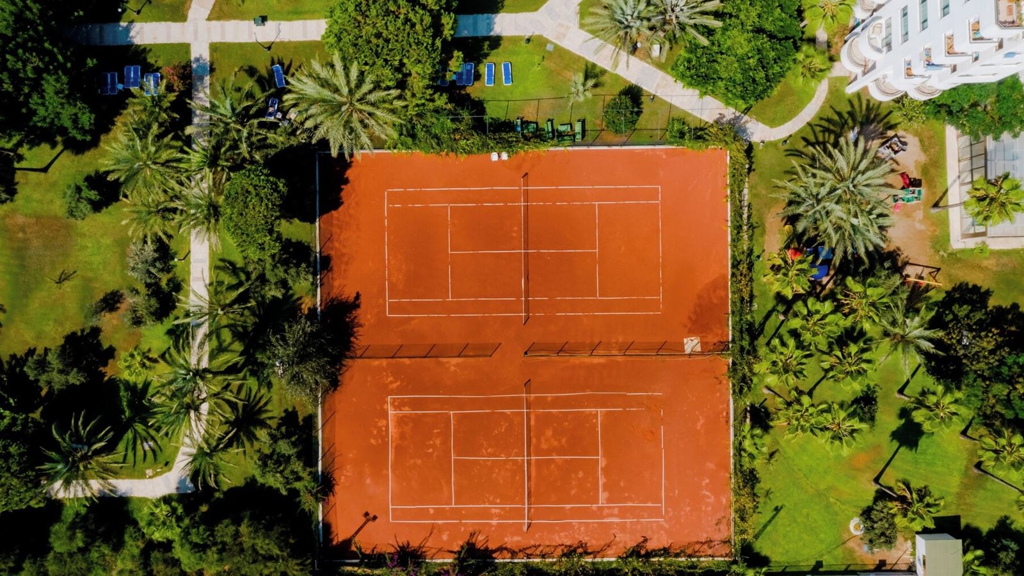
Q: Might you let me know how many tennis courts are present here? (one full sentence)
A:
The count of tennis courts comes to 2.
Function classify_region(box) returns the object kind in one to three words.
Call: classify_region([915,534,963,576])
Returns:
shed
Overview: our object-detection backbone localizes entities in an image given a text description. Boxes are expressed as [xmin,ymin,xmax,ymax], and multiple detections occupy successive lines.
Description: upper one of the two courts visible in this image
[319,149,730,356]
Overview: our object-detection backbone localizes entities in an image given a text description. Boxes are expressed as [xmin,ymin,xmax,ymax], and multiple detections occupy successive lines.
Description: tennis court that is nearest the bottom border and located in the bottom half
[321,354,732,560]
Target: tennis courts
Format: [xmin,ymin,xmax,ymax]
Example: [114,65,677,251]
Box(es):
[319,149,730,356]
[321,354,732,560]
